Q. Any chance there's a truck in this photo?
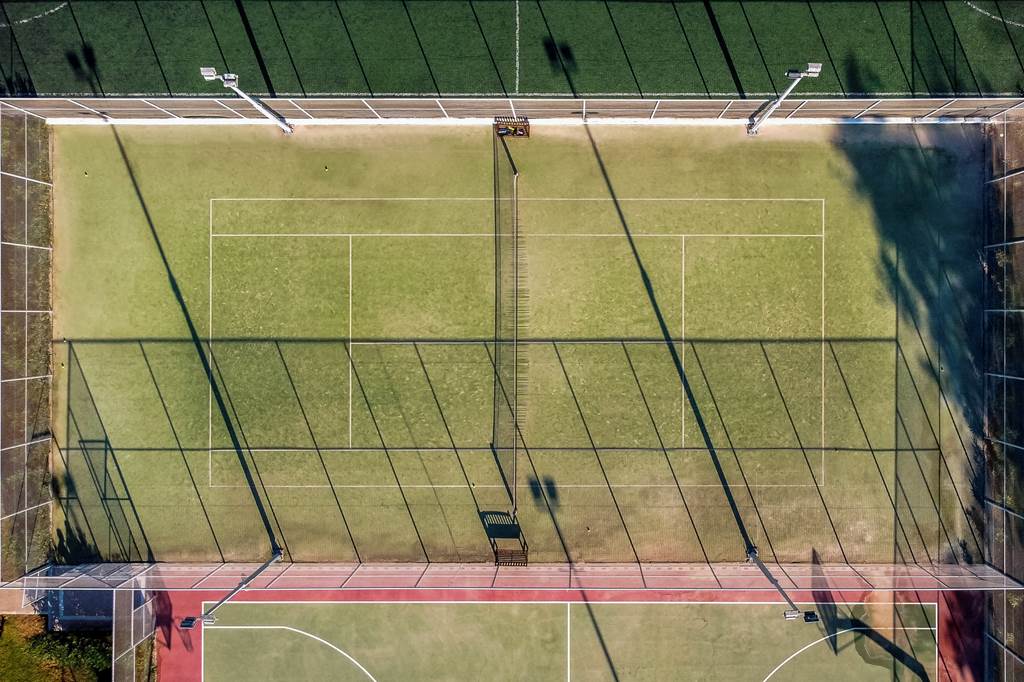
No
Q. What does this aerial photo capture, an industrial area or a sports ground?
sports ground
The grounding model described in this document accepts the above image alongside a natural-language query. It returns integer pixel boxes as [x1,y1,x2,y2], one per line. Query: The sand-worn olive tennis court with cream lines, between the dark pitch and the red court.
[55,124,981,562]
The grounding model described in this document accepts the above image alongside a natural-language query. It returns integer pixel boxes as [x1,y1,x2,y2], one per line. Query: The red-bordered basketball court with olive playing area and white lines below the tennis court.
[157,571,981,682]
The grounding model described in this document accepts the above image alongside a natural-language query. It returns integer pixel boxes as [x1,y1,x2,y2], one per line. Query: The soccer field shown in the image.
[0,0,1024,119]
